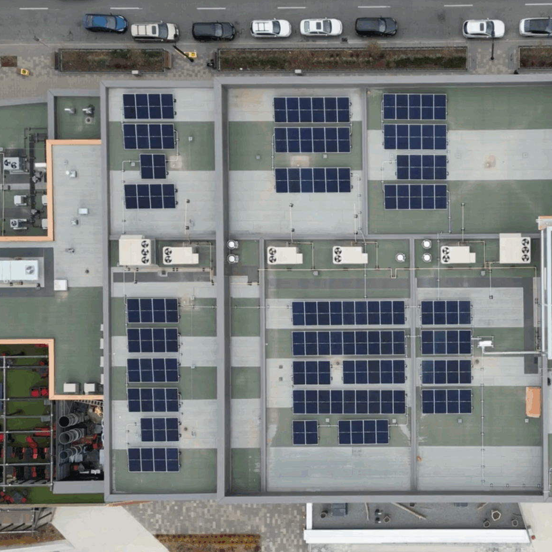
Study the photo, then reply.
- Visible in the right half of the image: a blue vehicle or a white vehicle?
white vehicle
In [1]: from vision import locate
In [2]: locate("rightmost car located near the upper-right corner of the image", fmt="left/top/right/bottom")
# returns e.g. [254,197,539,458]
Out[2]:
[519,16,552,38]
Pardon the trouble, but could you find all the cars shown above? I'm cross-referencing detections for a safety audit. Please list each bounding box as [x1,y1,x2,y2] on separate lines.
[249,18,293,40]
[299,17,344,39]
[462,18,505,40]
[519,16,552,38]
[354,16,398,38]
[82,12,129,34]
[191,20,236,42]
[130,20,180,43]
